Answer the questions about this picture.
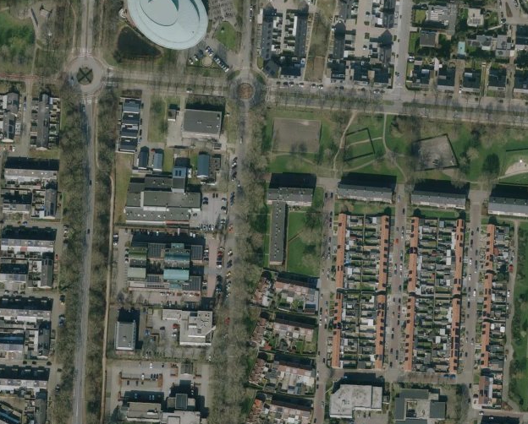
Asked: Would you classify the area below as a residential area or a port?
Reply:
residential area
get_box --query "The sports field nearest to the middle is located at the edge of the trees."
[271,116,323,153]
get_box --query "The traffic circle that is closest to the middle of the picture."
[224,71,267,111]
